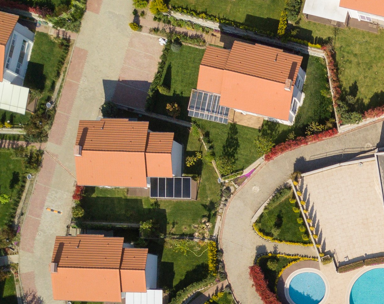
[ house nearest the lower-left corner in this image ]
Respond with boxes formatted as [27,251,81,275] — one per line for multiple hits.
[47,233,162,304]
